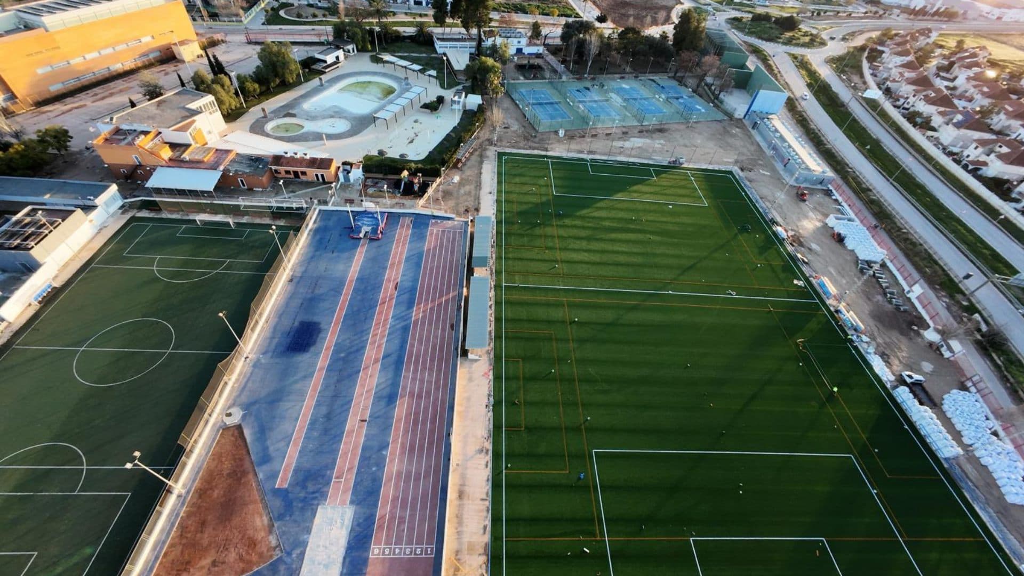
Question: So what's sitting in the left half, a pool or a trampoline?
pool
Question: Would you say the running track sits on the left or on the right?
left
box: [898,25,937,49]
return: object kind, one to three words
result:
house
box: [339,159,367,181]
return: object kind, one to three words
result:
building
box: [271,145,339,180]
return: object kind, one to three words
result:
house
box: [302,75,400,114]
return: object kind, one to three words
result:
swimming pool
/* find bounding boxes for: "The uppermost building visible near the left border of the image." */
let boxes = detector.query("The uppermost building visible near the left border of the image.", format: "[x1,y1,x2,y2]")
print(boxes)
[0,0,211,114]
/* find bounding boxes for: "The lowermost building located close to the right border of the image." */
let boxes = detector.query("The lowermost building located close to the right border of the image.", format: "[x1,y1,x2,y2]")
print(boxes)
[964,170,1024,216]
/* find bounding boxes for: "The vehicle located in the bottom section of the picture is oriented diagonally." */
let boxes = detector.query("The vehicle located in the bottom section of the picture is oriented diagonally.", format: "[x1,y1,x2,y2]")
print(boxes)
[909,372,947,401]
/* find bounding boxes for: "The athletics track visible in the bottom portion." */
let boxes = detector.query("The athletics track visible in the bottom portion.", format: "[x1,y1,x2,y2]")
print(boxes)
[150,213,468,576]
